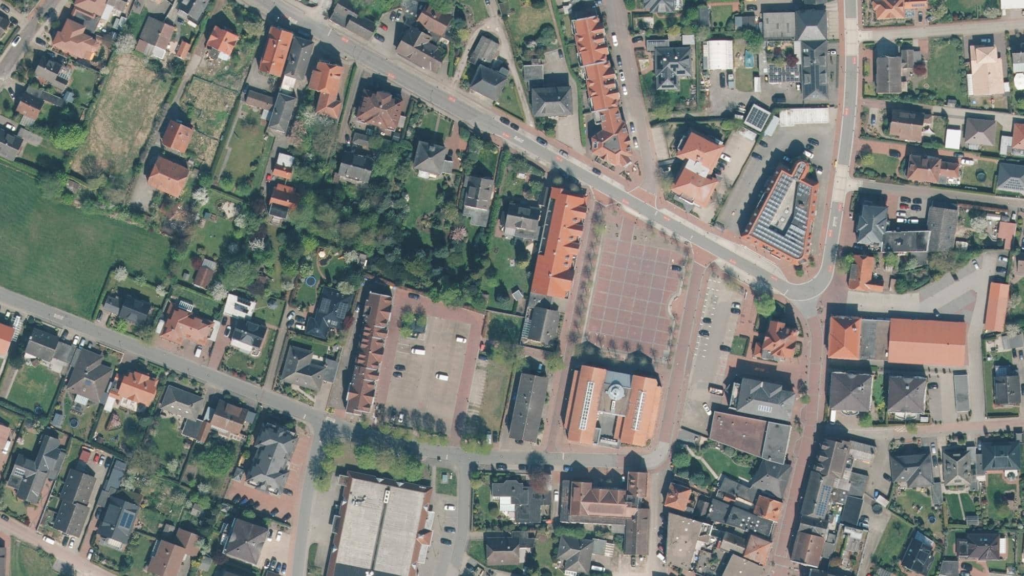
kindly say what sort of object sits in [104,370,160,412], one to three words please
house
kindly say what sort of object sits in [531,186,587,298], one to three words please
building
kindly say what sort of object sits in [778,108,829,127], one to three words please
shed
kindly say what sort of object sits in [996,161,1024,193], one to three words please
house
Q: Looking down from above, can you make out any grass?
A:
Yes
